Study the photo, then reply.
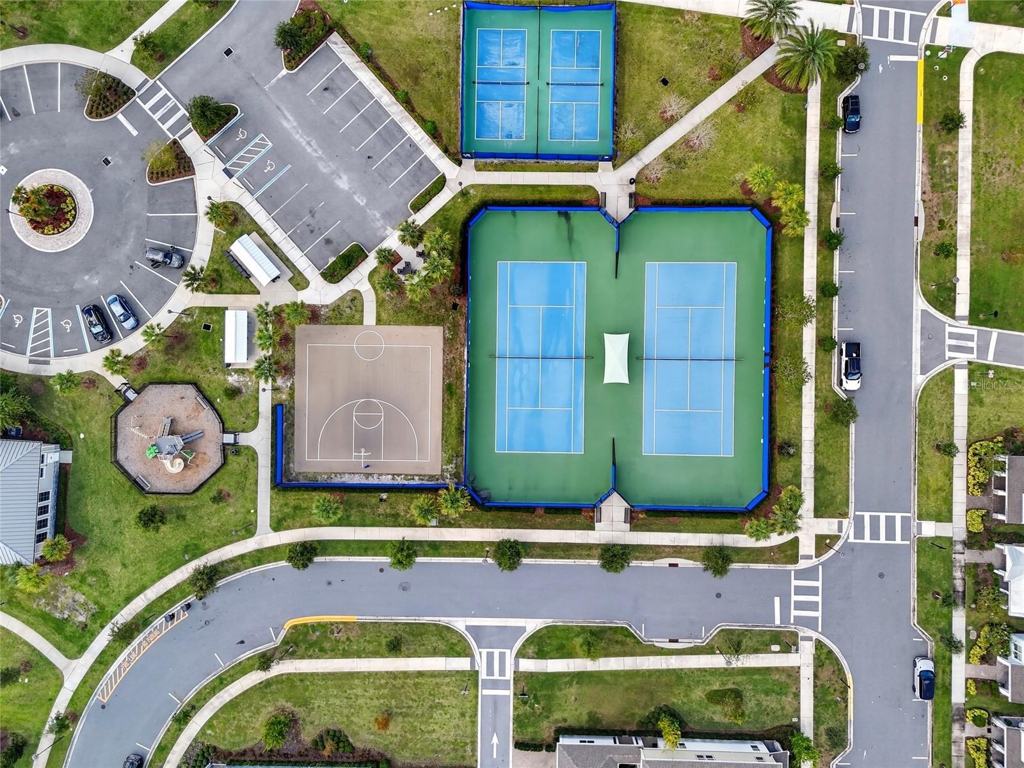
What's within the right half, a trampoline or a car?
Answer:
car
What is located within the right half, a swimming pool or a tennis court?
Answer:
tennis court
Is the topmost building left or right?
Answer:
left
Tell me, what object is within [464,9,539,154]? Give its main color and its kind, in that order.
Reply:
blue sports court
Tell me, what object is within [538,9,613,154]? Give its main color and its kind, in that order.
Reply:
blue sports court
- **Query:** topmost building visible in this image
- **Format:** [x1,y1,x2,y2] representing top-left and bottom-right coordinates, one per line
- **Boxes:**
[230,234,284,287]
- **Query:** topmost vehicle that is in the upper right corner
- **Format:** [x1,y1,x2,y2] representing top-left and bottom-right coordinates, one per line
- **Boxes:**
[840,94,863,135]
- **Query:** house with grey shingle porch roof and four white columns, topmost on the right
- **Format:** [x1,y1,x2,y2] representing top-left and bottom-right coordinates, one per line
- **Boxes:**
[993,454,1024,526]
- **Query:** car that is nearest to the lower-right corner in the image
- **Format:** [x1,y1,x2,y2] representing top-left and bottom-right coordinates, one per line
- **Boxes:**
[913,656,936,699]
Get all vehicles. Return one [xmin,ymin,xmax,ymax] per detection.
[841,342,863,390]
[840,94,863,135]
[145,248,187,272]
[107,293,139,330]
[81,303,114,343]
[123,750,147,768]
[913,656,936,699]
